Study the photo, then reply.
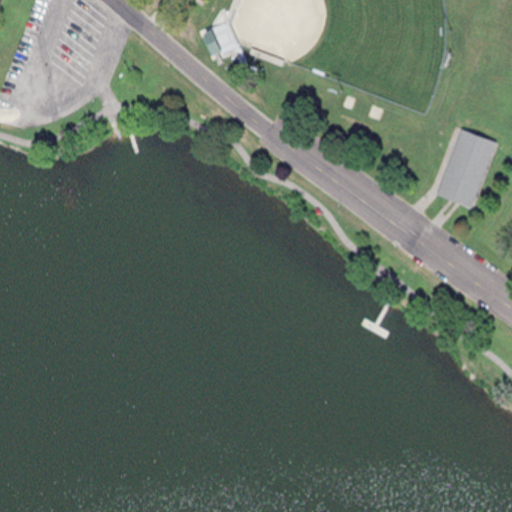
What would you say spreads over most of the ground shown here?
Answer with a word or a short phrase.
water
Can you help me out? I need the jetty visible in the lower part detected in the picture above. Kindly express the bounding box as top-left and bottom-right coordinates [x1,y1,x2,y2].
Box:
[362,304,390,340]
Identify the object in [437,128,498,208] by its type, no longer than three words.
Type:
building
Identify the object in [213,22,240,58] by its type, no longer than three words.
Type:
building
